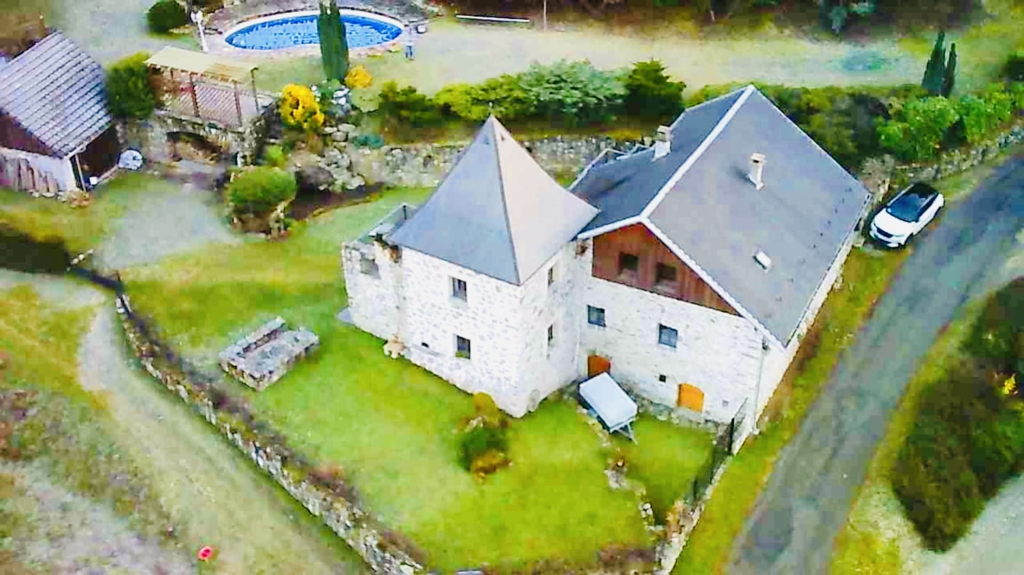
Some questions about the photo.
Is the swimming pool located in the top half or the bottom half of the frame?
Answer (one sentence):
It is in the top half that the swimming pool appears.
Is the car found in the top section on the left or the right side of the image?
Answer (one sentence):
The car found in the top section sits on the right side.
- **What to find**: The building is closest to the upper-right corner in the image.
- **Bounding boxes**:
[569,85,874,433]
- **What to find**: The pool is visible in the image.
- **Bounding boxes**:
[219,6,410,54]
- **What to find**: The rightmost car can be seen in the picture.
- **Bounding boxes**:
[867,180,946,248]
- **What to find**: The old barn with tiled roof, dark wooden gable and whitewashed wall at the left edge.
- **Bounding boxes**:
[0,37,127,197]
